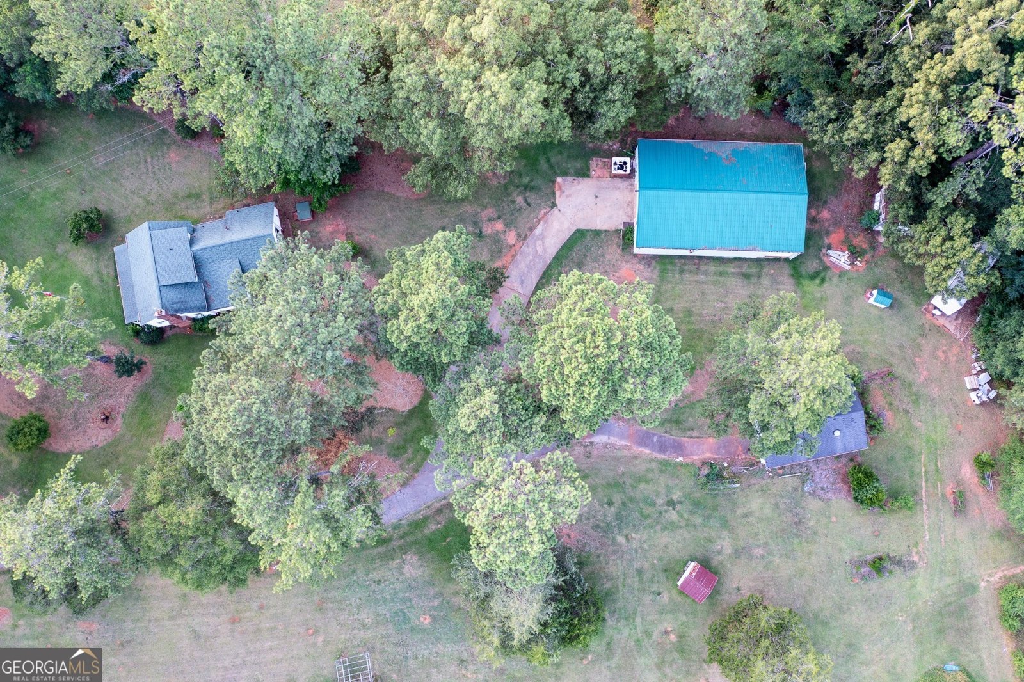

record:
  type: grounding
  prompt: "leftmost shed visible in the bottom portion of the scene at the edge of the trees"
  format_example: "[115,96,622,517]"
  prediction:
[673,556,718,603]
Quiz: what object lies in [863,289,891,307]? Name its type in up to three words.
building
